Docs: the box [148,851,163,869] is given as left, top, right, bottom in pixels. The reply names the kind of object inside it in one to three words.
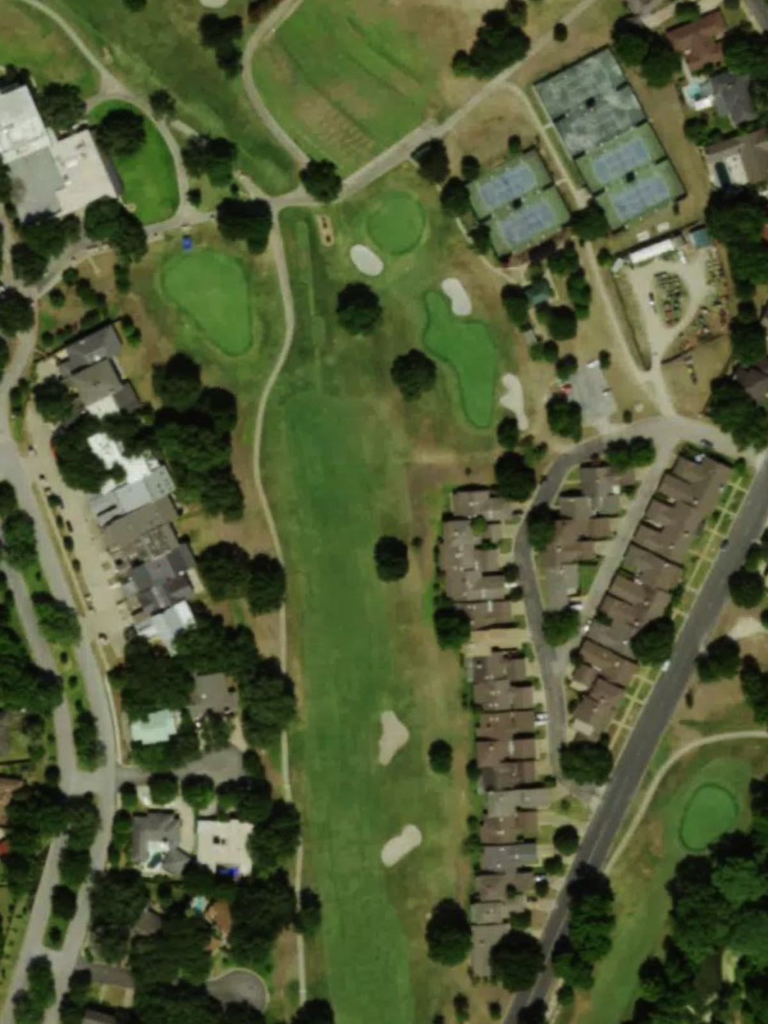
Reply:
swimming pool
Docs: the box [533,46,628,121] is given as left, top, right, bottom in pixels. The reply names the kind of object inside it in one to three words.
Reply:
tennis court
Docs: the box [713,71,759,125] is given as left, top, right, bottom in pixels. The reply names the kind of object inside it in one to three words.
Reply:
house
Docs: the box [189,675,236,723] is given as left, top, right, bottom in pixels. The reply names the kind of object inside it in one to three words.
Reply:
house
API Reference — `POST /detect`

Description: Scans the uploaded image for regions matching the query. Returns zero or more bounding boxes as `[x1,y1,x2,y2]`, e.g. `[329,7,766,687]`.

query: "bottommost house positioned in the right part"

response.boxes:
[472,926,511,978]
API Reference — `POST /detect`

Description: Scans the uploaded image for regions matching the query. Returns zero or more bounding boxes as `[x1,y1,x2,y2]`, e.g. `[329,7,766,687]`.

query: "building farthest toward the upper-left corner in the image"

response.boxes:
[0,84,123,224]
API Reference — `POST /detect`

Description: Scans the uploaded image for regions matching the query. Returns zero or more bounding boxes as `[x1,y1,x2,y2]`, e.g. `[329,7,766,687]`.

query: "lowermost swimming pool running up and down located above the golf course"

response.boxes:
[715,161,730,190]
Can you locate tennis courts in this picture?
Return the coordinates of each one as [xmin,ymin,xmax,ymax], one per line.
[471,151,554,219]
[591,156,686,232]
[572,120,666,195]
[486,184,569,252]
[533,46,628,121]
[552,83,647,158]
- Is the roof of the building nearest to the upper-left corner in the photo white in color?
Yes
